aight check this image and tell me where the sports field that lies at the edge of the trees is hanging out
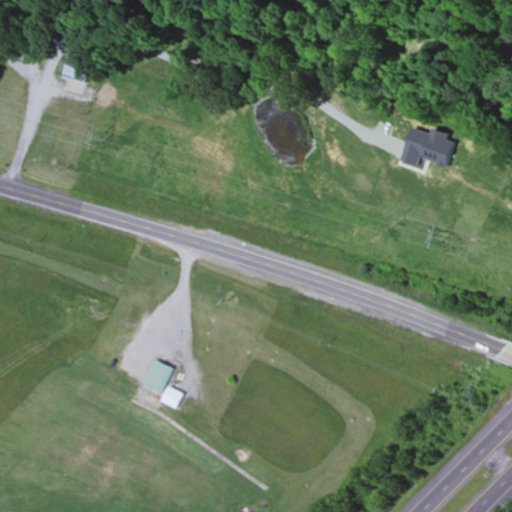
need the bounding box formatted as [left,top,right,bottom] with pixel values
[220,336,376,512]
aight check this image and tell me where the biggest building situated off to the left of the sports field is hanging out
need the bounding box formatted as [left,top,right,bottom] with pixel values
[146,360,175,392]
